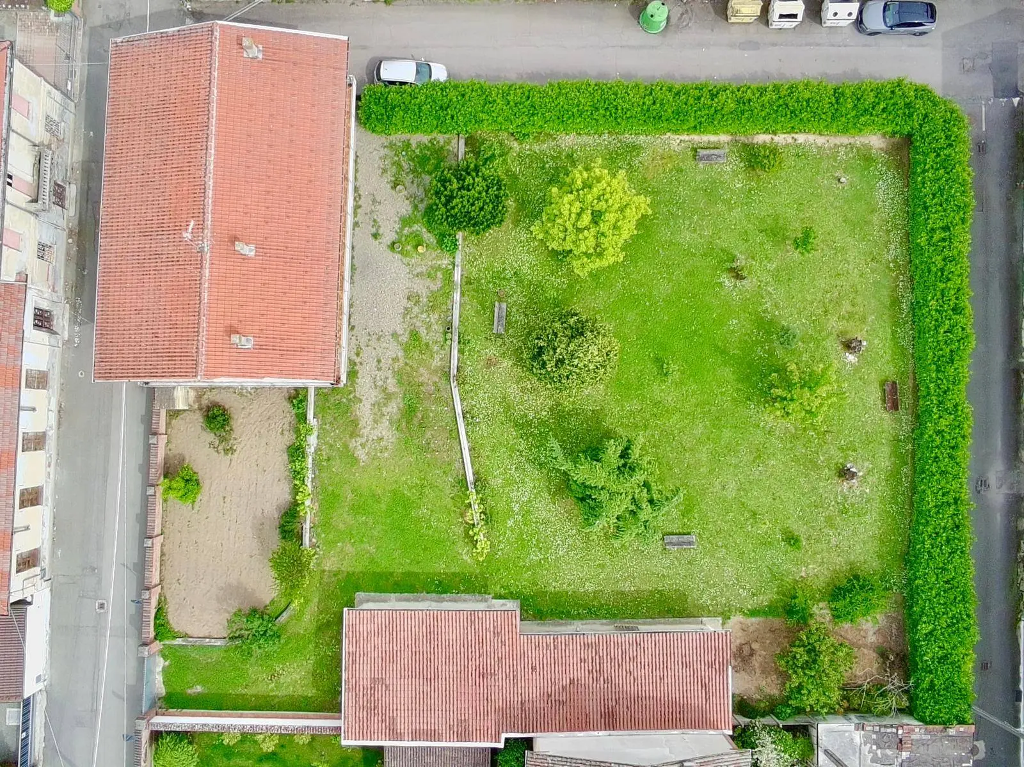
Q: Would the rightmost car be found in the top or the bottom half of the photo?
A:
top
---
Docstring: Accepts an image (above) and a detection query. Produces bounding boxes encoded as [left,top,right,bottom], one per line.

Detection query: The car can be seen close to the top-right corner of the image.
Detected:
[853,0,935,37]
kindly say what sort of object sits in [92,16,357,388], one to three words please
house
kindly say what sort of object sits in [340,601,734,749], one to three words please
house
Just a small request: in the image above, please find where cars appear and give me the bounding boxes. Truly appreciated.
[372,55,446,91]
[853,0,935,37]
